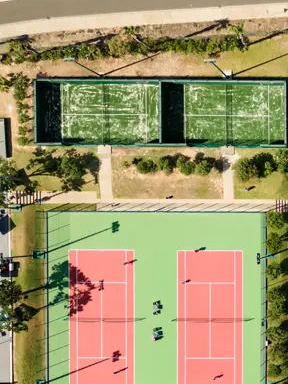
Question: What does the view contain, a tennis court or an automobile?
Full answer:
Looking from above, you can make out a tennis court.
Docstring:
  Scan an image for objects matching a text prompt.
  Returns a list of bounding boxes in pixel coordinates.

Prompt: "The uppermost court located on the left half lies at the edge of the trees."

[34,79,165,149]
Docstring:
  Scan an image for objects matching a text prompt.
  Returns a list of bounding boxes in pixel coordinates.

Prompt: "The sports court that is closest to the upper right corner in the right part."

[161,79,288,149]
